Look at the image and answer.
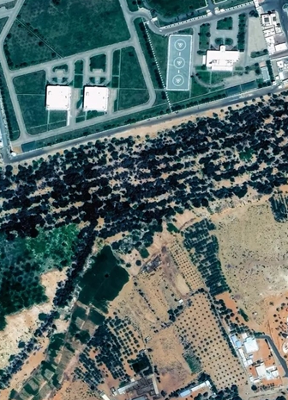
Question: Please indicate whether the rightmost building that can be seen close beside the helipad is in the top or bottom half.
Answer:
top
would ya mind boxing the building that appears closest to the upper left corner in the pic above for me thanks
[46,85,70,111]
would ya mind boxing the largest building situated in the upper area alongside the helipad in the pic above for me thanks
[207,50,240,70]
